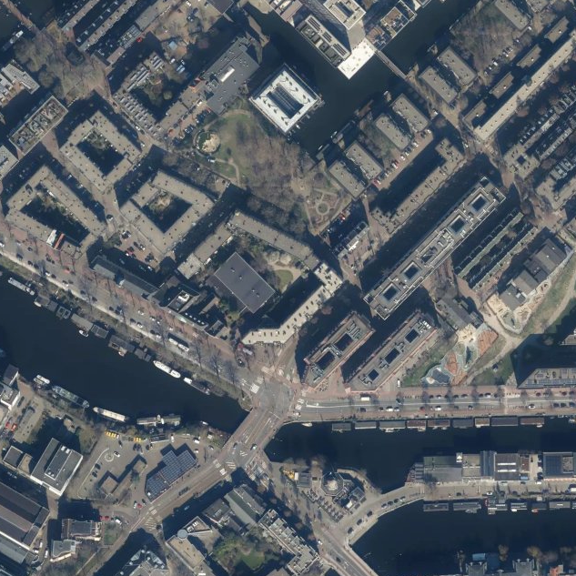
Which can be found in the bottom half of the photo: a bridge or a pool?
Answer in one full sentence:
Visible in the bottom half of the photo is a bridge.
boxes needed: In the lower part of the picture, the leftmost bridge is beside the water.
[221,406,286,452]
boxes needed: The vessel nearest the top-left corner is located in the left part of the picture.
[1,31,23,50]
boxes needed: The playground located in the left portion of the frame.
[196,126,223,155]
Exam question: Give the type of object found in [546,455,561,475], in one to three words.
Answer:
solar array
